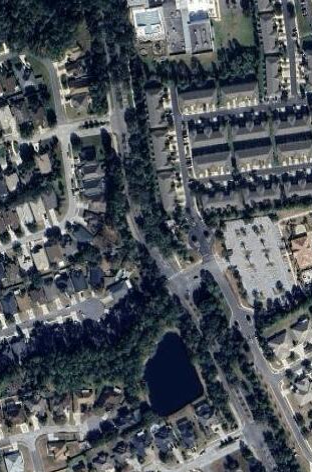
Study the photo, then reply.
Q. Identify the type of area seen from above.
residential area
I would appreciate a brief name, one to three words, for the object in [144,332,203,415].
pond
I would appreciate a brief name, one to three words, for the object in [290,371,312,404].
house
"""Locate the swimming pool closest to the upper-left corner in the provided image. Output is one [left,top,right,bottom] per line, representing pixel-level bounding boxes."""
[135,7,166,42]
